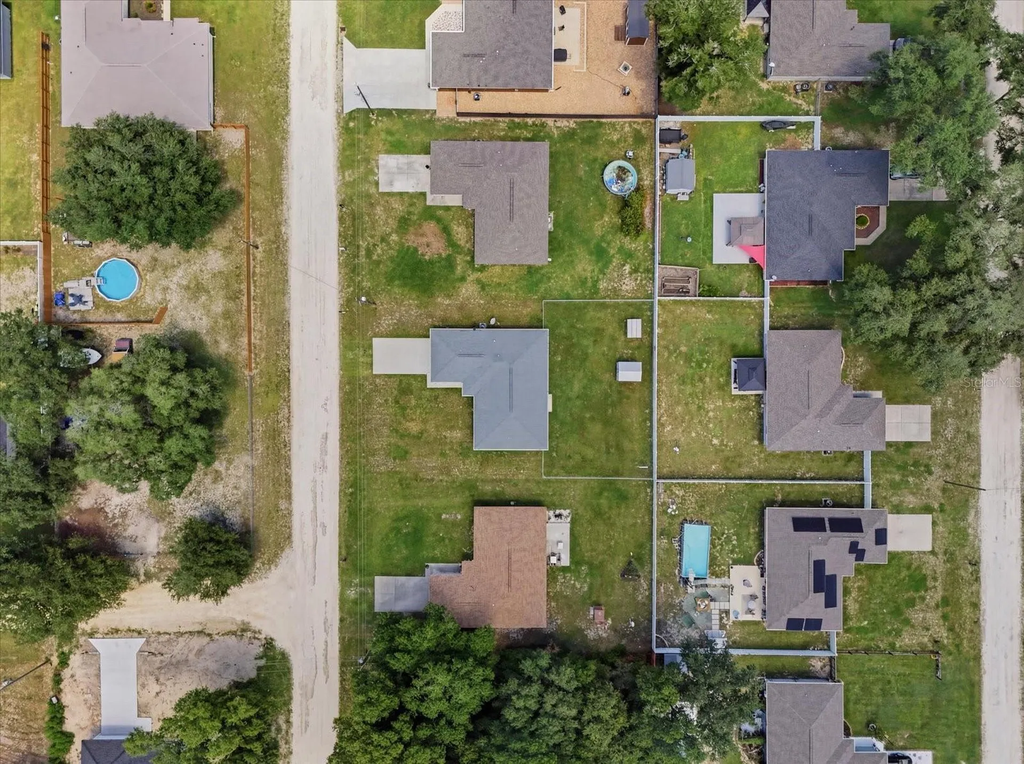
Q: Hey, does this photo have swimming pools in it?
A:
Yes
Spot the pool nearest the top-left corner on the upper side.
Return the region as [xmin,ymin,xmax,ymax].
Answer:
[96,258,144,303]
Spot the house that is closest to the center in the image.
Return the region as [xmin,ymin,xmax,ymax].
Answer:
[429,328,549,451]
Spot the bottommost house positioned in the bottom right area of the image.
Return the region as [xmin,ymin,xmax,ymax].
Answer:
[763,678,888,764]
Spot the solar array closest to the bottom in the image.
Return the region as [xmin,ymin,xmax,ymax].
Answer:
[786,618,823,630]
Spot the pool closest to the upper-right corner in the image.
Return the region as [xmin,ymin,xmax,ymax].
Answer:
[602,160,637,196]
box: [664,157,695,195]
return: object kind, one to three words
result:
shed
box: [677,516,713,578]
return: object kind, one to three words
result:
swimming pool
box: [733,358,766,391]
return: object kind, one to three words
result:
gazebo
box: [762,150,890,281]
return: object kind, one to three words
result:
house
